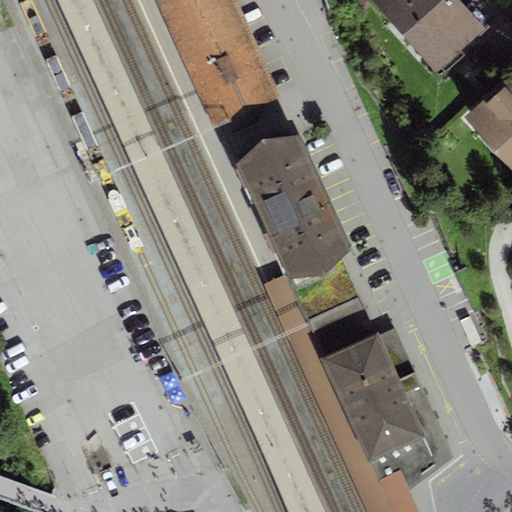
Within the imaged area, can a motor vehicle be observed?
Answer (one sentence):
Yes, there's a motor vehicle down there.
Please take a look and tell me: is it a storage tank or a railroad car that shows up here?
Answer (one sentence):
It is a railroad car that can be seen here.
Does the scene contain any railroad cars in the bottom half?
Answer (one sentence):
No, there's no railroad car to be seen in the bottom half.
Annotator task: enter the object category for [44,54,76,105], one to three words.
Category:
rail car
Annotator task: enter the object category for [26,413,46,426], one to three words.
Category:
vehicle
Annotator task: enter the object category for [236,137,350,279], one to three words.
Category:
building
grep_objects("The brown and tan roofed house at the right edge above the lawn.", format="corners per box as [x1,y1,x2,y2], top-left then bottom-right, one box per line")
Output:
[465,74,512,168]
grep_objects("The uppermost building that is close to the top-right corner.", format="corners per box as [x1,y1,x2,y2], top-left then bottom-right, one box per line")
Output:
[374,0,488,78]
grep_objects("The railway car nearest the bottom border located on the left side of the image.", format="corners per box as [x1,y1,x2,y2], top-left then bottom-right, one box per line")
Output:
[71,110,102,160]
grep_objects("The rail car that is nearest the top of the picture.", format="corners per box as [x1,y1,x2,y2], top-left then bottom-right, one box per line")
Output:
[16,0,52,51]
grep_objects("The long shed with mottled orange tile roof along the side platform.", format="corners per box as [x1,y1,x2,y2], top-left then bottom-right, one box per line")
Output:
[155,0,280,130]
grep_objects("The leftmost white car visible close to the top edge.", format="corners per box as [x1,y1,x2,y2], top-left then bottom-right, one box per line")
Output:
[243,8,264,22]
